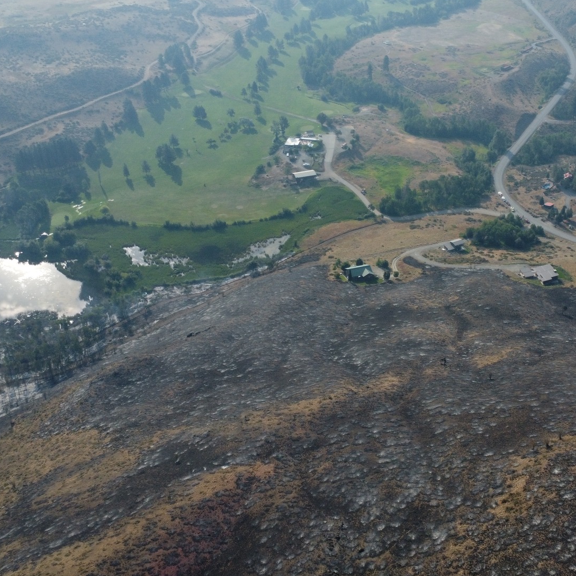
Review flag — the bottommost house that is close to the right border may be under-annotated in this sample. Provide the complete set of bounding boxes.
[507,262,563,285]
